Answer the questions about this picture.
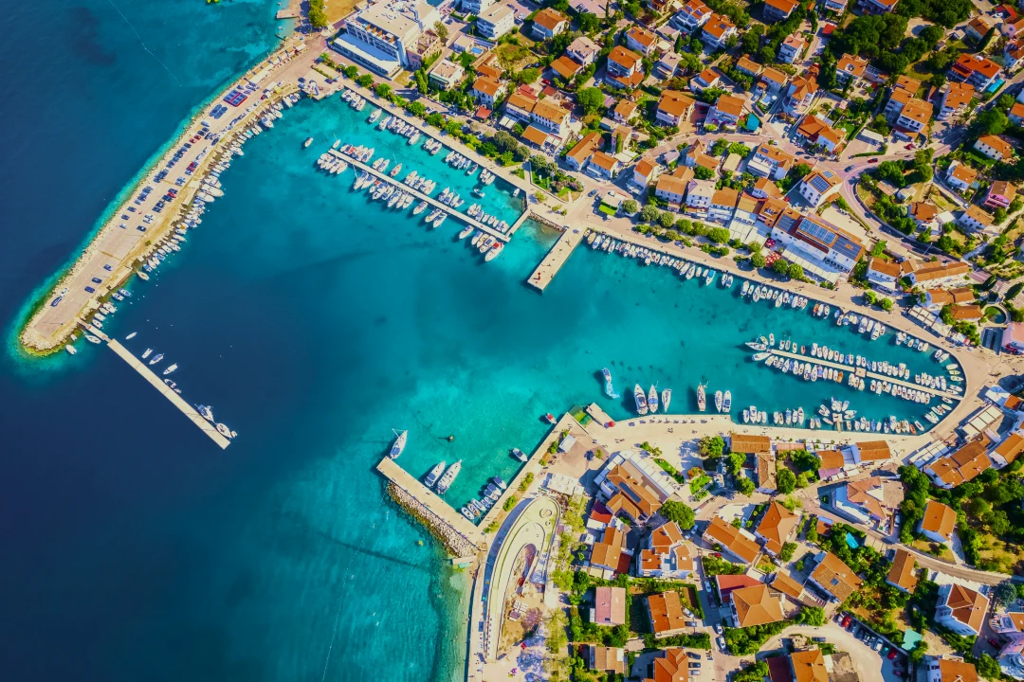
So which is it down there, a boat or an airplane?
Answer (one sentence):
There is a boat in the scene.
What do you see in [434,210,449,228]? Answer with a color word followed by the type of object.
white boat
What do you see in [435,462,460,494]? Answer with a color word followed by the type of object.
white boat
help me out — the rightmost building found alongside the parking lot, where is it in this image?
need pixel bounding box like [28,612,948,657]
[333,0,443,81]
